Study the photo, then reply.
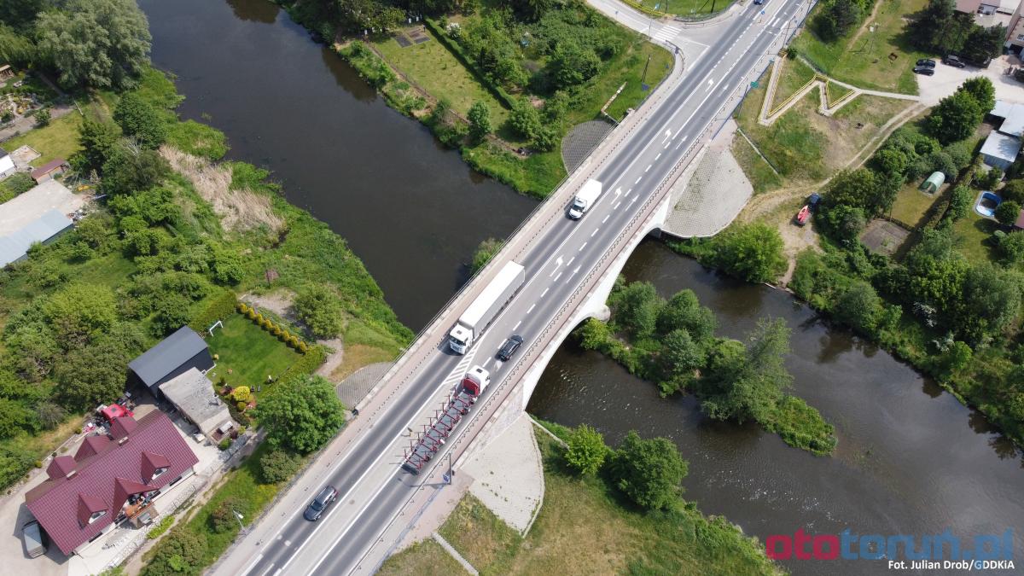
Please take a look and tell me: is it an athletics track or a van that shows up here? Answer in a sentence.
This aerial view contains a van.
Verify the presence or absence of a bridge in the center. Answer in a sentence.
Yes, there is a bridge in the center.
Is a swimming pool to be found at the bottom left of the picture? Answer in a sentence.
No, there's no swimming pool to be seen at the bottom left of the picture.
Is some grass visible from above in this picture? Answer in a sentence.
Yes, there's grass in this view.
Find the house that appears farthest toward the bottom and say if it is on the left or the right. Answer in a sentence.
The house that appears farthest toward the bottom sits on the left side.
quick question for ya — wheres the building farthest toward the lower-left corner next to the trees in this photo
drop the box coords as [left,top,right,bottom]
[27,409,200,558]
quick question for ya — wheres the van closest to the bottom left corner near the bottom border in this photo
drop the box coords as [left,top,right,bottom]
[17,519,46,560]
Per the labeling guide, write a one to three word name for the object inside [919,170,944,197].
greenhouse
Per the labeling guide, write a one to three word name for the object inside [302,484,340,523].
car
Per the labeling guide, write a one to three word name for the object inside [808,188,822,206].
car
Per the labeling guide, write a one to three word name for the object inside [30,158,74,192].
shed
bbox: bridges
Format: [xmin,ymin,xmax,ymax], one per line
[345,105,716,479]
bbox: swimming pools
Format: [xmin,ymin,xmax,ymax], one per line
[973,192,1002,221]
